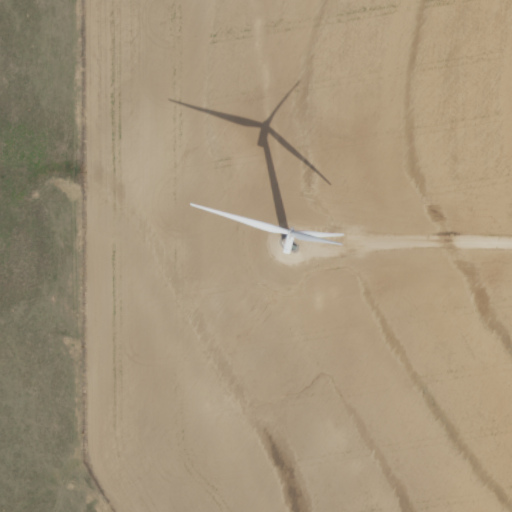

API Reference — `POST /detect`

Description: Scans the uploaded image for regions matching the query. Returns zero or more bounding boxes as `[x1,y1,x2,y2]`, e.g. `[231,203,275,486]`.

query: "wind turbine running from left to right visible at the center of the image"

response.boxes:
[190,204,344,254]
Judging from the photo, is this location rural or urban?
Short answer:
rural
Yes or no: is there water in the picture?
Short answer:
No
